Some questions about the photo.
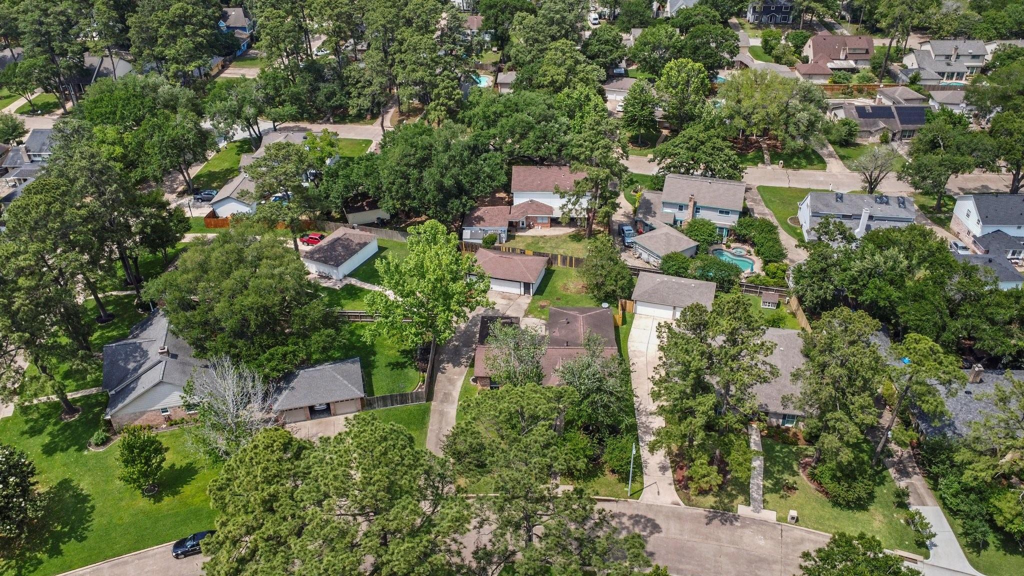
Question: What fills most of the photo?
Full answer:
The largest share of the image is taken up by trees.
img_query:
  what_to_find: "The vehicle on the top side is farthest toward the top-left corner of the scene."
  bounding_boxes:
[187,185,223,201]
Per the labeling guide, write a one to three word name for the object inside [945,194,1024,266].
house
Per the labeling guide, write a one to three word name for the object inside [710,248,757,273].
swimming pool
